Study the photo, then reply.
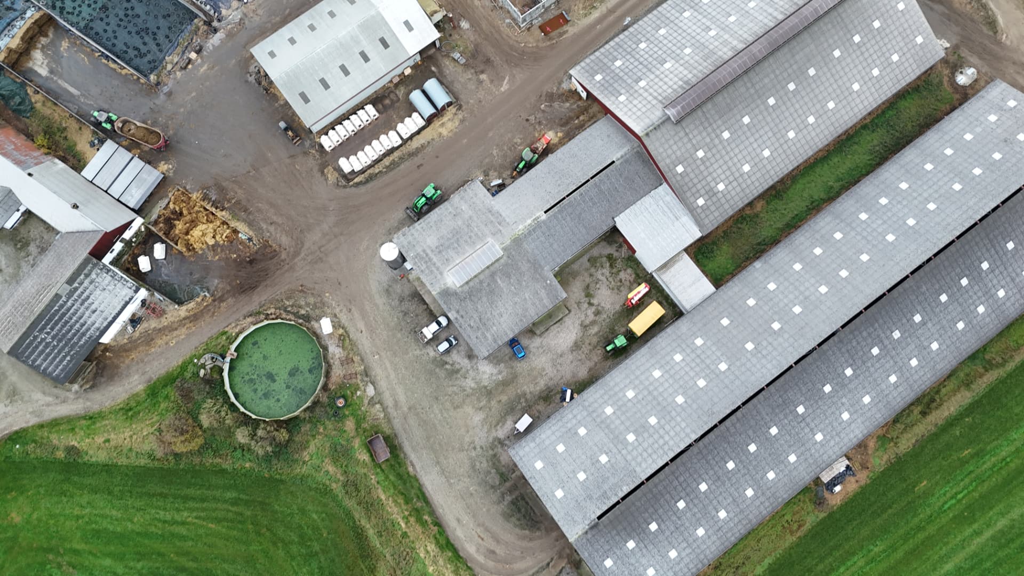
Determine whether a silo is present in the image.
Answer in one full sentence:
Yes, I can see a silo in this picture.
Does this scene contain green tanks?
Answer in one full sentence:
Yes, looking at the shot, I can spot a green tank.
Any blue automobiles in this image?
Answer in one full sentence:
Yes, there's a blue automobile down there.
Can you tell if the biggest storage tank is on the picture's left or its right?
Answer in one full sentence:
It is on the left.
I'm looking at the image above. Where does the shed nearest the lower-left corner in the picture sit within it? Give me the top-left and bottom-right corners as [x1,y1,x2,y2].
[0,230,145,387]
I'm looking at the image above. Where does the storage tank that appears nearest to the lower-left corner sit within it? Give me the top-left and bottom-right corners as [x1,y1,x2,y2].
[224,320,328,421]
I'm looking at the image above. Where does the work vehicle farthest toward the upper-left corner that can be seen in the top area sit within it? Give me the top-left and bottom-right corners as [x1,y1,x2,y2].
[87,108,120,132]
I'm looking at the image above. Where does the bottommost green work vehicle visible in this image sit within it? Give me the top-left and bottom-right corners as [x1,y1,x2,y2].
[599,330,632,359]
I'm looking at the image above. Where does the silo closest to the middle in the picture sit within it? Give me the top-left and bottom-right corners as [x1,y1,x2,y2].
[381,243,413,273]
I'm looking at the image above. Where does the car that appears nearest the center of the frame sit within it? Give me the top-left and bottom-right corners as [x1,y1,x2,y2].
[508,336,528,361]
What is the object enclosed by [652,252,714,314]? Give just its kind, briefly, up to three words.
shed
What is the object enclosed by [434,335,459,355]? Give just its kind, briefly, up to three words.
car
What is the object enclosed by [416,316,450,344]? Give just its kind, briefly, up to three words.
truck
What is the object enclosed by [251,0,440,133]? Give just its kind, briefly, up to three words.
barn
